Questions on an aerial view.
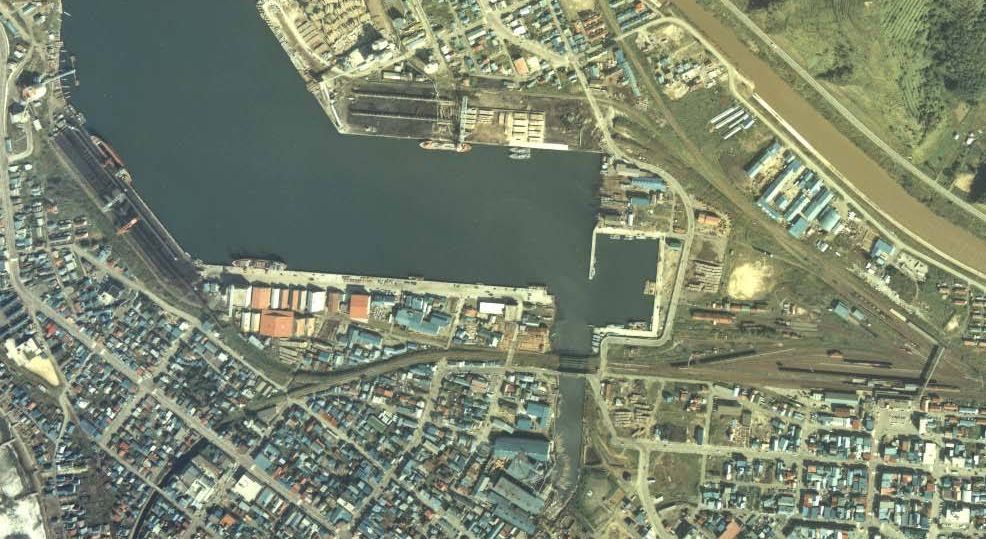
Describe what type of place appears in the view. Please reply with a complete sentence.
What you see here is a port.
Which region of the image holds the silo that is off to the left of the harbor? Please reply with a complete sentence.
Look in the top left portion of the view to spot the silo that is off to the left of the harbor.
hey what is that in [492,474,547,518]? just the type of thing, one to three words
building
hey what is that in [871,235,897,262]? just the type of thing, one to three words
building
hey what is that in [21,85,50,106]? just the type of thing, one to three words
silo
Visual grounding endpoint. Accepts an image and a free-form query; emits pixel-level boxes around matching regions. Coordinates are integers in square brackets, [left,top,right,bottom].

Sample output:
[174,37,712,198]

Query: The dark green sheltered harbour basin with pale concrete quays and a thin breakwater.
[69,3,666,352]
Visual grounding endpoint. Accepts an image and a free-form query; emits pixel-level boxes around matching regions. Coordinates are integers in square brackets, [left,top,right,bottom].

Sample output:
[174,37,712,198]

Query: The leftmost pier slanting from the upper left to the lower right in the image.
[69,122,195,266]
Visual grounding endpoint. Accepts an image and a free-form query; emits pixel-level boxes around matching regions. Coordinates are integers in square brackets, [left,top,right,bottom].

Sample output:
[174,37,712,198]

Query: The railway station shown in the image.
[813,377,931,425]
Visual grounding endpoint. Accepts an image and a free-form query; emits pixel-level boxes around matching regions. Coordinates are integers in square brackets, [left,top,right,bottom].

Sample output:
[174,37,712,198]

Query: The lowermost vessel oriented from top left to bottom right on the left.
[90,136,134,185]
